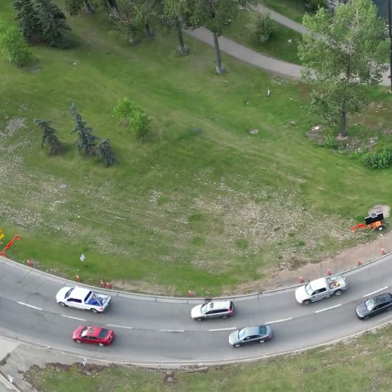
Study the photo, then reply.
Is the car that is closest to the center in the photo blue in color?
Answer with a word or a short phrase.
No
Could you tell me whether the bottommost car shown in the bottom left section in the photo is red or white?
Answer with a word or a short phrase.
red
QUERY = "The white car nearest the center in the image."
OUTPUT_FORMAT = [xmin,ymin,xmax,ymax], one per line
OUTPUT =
[192,300,234,322]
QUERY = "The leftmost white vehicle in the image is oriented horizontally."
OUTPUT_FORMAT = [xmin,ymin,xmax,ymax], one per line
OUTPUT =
[58,288,112,315]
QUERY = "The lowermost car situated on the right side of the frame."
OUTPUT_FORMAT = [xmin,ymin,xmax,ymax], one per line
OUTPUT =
[230,325,273,349]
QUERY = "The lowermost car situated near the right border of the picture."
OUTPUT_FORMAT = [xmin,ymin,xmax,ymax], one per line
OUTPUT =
[354,292,392,322]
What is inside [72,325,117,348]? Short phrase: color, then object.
red car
